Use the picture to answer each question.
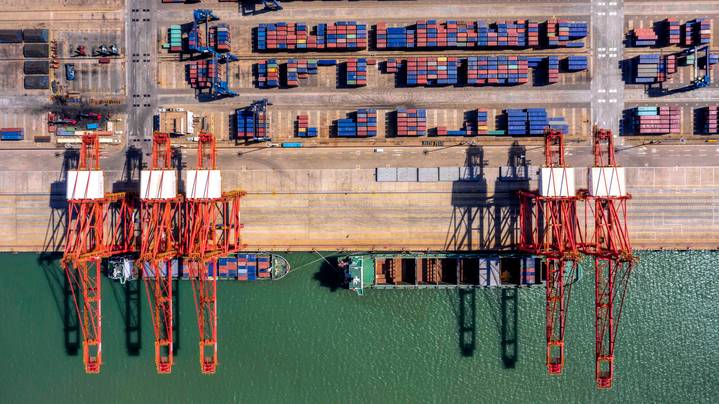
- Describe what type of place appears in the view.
port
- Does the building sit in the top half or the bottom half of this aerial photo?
top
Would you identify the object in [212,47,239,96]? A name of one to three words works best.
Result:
crane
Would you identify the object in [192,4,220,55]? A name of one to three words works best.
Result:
crane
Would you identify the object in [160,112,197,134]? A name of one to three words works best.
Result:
building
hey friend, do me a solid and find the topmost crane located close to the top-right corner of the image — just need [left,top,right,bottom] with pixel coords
[671,41,711,91]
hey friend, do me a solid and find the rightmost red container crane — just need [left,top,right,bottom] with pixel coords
[550,129,638,389]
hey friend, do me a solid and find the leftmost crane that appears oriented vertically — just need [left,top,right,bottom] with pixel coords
[53,134,149,374]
